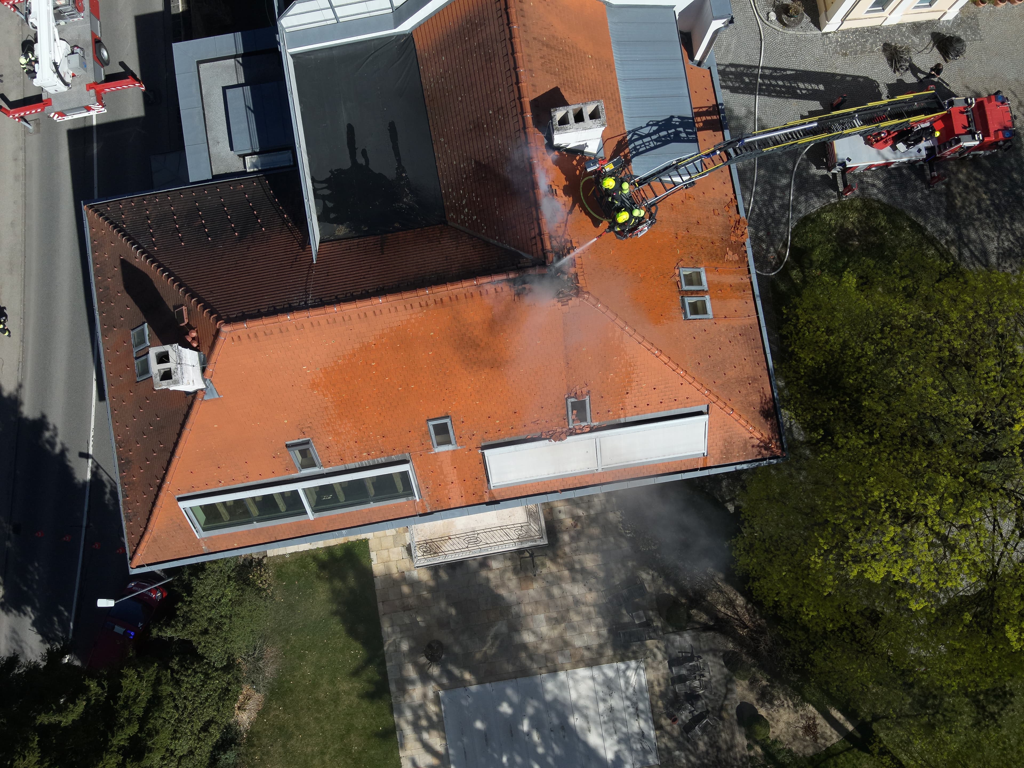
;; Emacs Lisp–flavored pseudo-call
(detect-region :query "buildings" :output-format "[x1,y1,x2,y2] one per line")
[818,0,973,35]
[76,0,795,575]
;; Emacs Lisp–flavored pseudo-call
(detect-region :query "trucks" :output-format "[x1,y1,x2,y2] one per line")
[0,0,156,135]
[585,73,1024,242]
